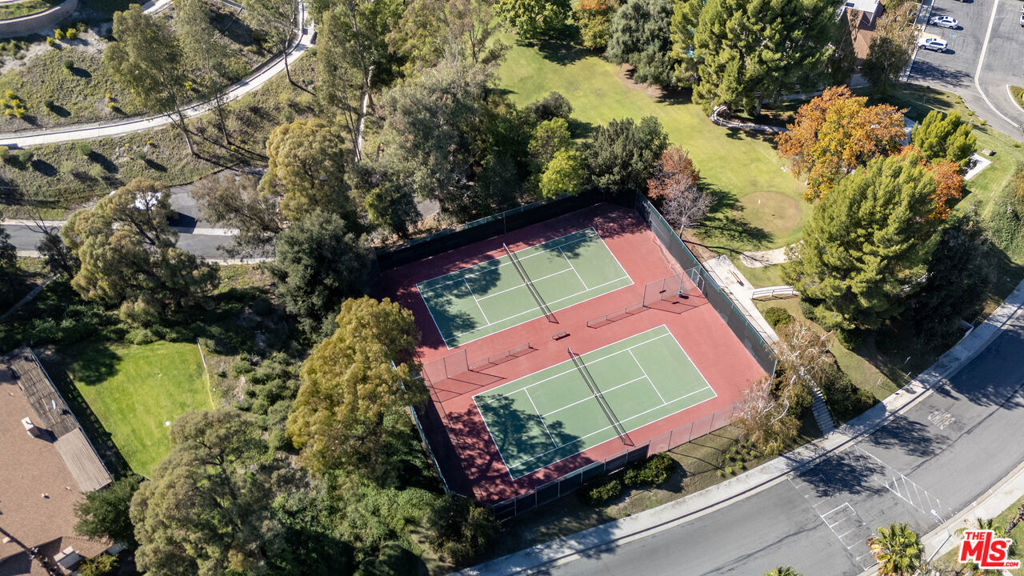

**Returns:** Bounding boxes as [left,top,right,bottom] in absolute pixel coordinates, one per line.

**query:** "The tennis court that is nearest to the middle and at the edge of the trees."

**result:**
[417,227,634,350]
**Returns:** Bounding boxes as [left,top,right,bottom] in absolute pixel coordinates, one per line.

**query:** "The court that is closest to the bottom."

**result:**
[472,325,717,480]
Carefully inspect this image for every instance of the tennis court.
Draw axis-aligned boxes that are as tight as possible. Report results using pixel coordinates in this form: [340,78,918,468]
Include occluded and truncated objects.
[472,325,717,480]
[417,227,634,350]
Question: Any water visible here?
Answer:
No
